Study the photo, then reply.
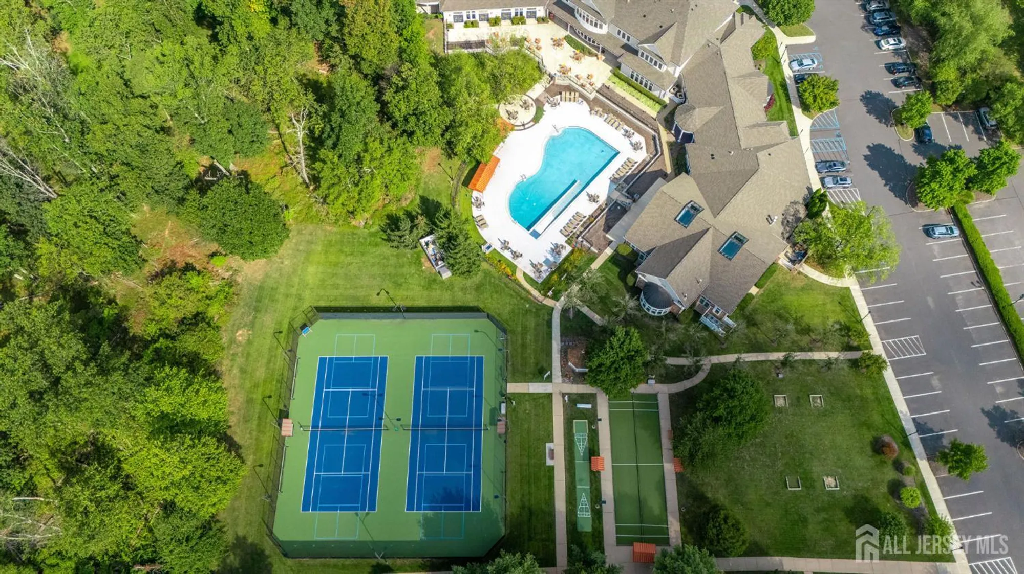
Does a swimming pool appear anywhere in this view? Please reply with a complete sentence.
Yes, the picture does show a swimming pool.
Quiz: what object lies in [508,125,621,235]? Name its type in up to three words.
swimming pool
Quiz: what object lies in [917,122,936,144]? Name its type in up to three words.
car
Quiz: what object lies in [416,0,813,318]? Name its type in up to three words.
building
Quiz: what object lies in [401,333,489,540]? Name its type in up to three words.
tennis court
